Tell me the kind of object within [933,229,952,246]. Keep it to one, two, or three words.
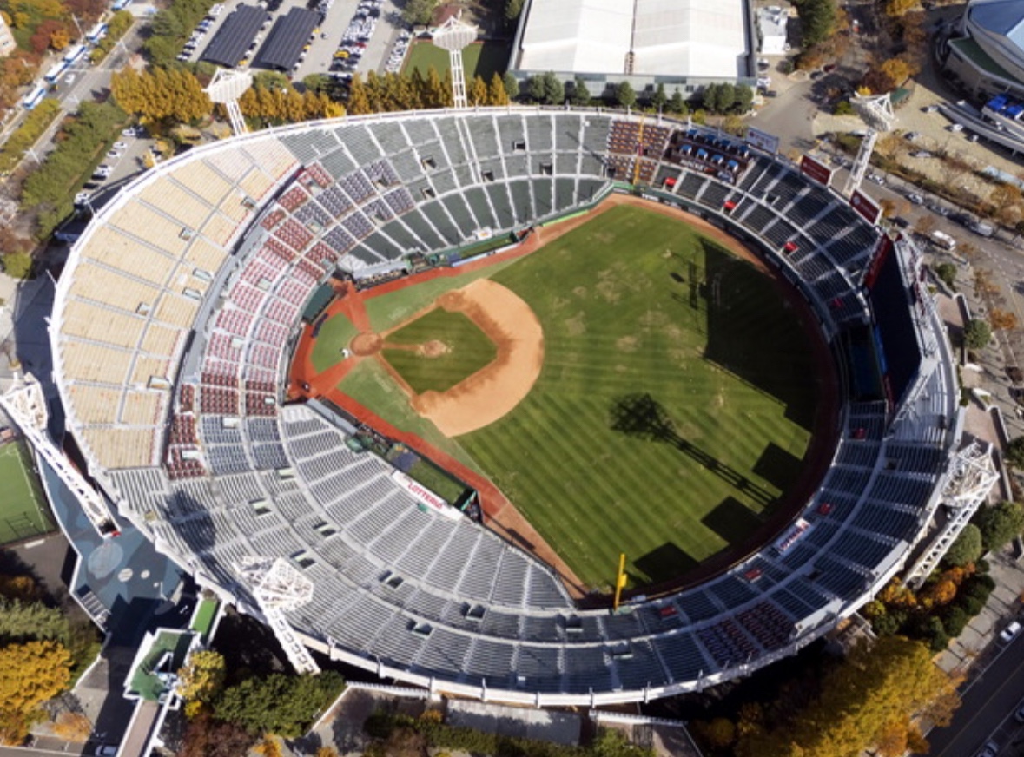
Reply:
vehicle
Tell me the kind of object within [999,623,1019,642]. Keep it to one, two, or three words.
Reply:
car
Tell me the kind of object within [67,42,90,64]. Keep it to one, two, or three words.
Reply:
bus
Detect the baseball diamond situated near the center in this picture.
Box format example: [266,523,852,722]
[272,185,843,601]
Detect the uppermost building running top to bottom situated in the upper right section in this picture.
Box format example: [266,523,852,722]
[755,5,787,70]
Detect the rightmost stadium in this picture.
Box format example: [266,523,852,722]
[925,0,1024,162]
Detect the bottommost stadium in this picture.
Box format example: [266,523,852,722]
[48,102,964,707]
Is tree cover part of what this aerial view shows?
Yes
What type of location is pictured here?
sports ground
